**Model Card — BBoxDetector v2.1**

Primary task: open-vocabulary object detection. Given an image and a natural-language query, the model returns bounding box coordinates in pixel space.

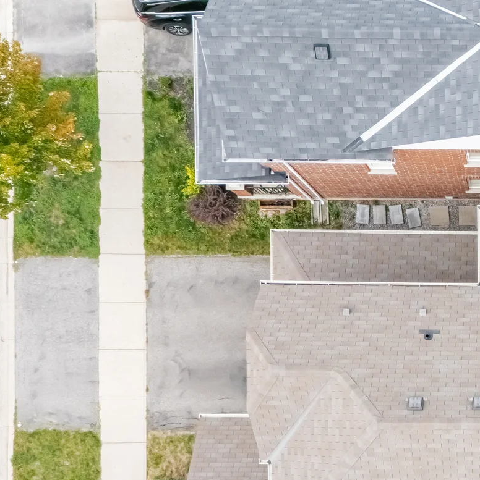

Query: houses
[195,0,480,208]
[187,205,480,480]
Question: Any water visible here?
No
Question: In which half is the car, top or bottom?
top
